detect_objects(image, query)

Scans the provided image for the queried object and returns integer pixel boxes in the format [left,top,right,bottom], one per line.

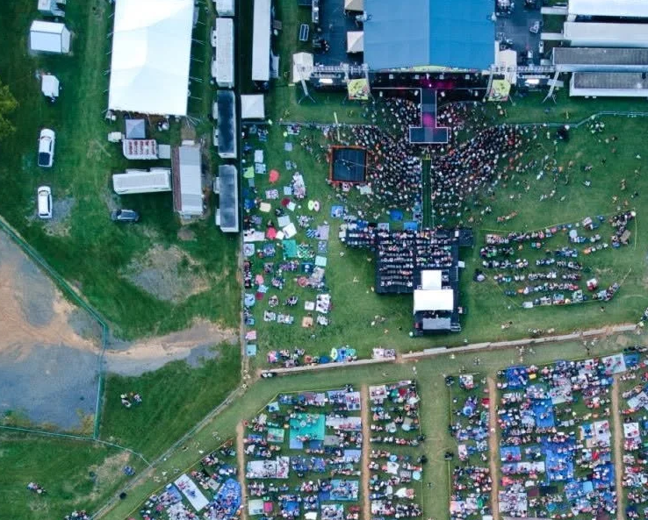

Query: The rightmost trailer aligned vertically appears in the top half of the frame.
[251,0,278,87]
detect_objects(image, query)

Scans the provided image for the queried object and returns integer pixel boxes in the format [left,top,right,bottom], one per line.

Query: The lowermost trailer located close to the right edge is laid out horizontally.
[571,75,648,102]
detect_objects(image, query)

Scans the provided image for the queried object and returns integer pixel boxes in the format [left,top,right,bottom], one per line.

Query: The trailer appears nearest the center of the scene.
[216,166,241,235]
